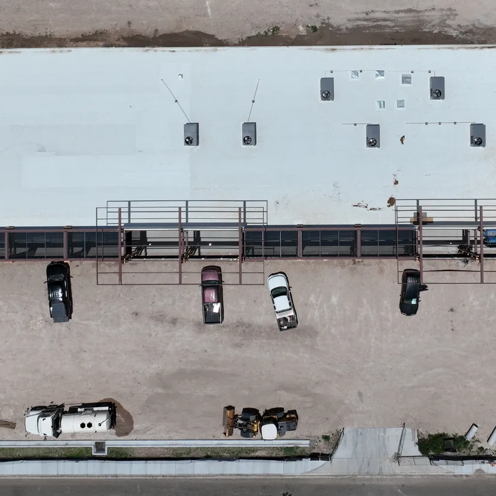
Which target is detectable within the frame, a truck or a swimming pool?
truck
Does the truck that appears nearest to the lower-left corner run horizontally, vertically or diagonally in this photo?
horizontally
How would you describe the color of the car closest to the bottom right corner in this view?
black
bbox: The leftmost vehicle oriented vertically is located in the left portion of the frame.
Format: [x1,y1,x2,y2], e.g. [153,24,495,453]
[43,261,73,323]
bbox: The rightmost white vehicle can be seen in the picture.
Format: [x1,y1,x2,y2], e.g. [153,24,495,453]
[266,269,299,334]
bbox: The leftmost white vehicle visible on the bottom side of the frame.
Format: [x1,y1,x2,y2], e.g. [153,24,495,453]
[25,404,118,439]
